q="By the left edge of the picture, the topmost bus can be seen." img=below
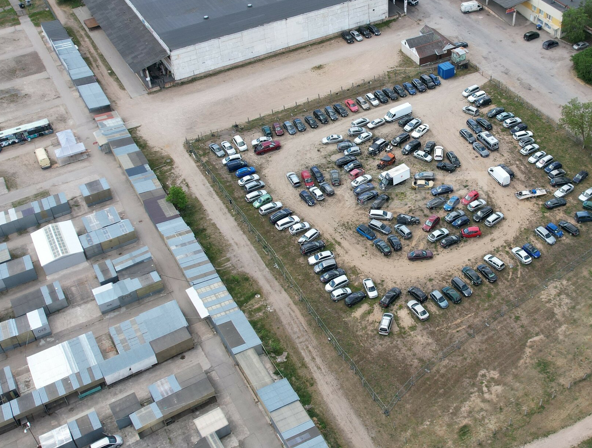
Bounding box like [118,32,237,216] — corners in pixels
[0,119,58,152]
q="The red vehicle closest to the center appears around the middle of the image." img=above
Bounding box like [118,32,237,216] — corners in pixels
[299,169,315,190]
